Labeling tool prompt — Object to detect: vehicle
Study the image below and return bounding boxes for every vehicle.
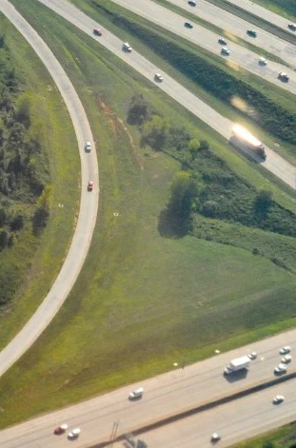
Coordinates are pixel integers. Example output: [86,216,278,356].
[127,389,144,399]
[273,364,288,373]
[280,355,293,363]
[246,352,258,359]
[257,58,268,65]
[187,0,197,6]
[225,356,250,374]
[272,396,285,404]
[245,30,257,37]
[92,29,102,35]
[229,125,266,159]
[87,181,92,190]
[122,43,132,50]
[52,424,69,434]
[217,39,227,45]
[208,434,222,442]
[67,428,81,438]
[220,47,230,55]
[184,22,193,28]
[277,73,289,81]
[154,73,163,81]
[85,142,90,151]
[278,346,291,354]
